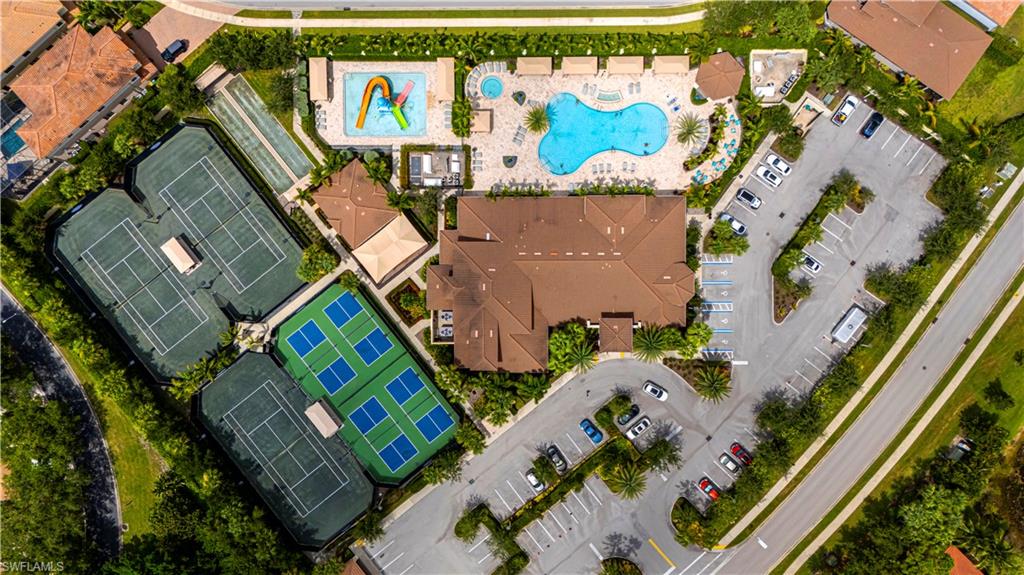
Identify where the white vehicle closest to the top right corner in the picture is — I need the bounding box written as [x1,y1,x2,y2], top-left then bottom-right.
[832,94,858,126]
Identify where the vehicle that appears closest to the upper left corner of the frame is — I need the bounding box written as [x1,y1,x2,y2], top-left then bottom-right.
[161,38,188,62]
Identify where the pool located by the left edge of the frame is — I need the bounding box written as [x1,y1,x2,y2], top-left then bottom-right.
[0,115,29,162]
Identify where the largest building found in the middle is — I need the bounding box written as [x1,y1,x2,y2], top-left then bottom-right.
[426,194,694,372]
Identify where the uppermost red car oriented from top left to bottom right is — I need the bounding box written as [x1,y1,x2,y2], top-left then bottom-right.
[729,442,751,466]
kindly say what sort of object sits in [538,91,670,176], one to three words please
swimming pool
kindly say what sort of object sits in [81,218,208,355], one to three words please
tennis court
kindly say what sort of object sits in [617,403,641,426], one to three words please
car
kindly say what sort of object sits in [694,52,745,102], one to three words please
gazebo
